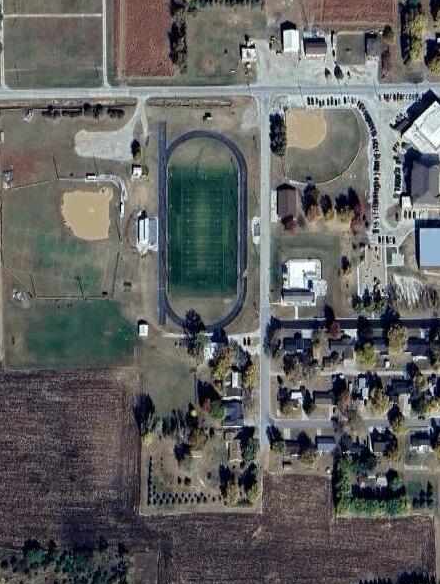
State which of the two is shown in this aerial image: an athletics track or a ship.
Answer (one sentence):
There is an athletics track in the scene.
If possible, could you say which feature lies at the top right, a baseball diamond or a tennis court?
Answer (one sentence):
You can see a baseball diamond at the top right.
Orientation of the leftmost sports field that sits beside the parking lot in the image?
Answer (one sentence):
The leftmost sports field that sits beside the parking lot is oriented vertically.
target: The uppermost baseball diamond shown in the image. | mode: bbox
[281,108,364,185]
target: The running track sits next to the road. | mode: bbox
[159,121,248,331]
